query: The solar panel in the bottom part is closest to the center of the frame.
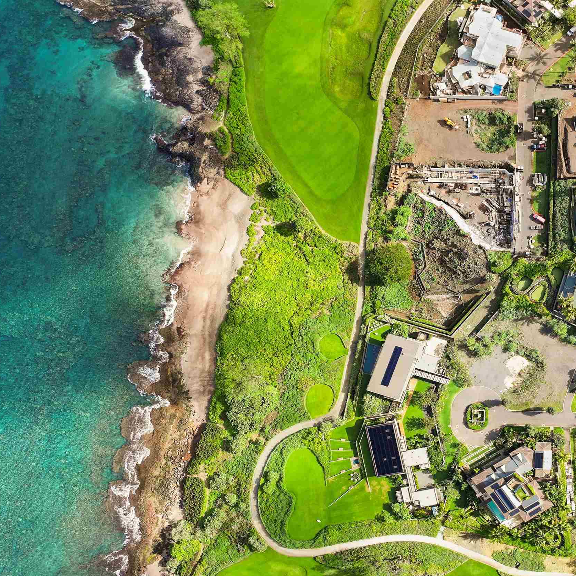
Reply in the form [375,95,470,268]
[381,346,403,386]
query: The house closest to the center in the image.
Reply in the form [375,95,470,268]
[362,331,450,403]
